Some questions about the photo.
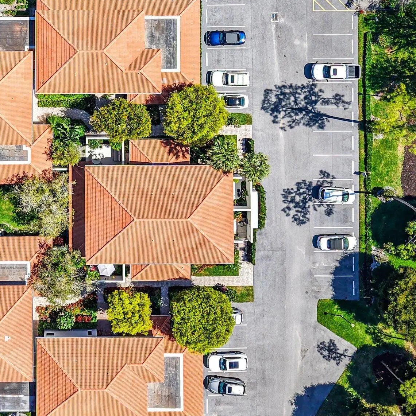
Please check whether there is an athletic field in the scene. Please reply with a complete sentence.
No, I find no athletic field anywhere in the image.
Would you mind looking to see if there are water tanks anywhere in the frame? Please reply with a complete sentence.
No, the photo shows no water tank.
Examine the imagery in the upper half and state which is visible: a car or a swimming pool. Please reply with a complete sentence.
Visible in the upper half is a car.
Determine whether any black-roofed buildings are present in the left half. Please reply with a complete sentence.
No, no black-roofed building is visible in the left half.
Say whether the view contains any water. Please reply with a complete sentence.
No, there is no water in the image.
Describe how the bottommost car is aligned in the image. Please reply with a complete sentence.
From this overhead view, the bottommost car appears to run from side to side.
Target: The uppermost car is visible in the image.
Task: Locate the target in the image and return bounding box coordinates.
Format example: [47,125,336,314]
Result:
[204,28,245,47]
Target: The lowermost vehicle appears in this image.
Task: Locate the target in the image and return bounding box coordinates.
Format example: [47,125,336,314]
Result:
[205,375,247,397]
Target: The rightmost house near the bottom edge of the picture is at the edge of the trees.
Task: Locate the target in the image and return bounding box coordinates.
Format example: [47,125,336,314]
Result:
[35,314,205,416]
